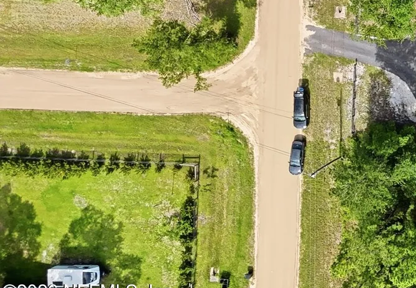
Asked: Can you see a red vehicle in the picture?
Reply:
No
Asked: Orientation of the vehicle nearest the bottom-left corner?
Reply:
from left to right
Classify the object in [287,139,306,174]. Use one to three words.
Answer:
car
